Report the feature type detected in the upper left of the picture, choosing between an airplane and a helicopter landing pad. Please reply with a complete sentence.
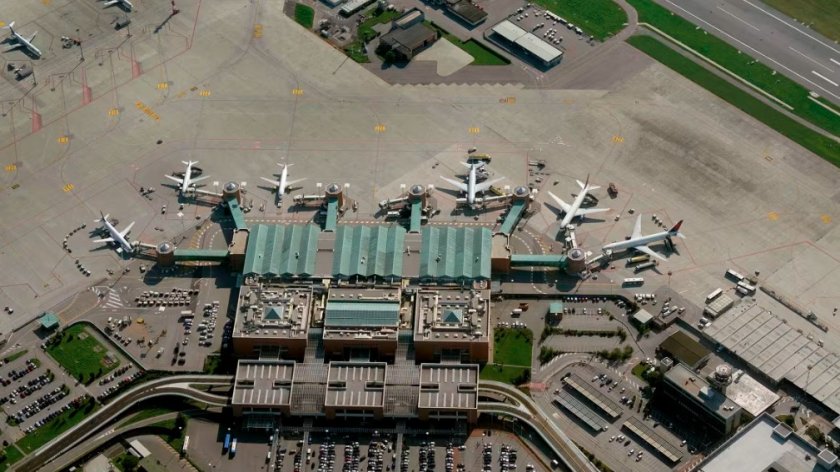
Looking in the upper left of the picture, you will find an airplane.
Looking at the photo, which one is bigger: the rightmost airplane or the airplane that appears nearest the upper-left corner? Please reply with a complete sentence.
The rightmost airplane covers a greater area than the airplane that appears nearest the upper-left corner.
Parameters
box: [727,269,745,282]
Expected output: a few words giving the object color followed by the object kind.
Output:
white vehicle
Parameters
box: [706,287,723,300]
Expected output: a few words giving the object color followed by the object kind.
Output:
white vehicle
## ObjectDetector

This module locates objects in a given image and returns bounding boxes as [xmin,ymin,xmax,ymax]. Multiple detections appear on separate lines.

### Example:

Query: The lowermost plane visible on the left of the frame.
[95,215,139,253]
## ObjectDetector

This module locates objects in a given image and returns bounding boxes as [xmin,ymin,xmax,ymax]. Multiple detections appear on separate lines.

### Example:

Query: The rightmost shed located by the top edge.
[483,19,563,73]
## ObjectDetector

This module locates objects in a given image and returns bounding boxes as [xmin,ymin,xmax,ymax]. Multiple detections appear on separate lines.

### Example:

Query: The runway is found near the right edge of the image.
[653,0,840,110]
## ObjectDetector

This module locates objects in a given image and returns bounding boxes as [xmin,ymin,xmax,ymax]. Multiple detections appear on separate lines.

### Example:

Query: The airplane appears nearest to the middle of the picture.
[440,162,505,209]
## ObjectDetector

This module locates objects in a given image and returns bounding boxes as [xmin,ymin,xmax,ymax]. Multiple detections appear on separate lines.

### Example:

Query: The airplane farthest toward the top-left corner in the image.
[2,22,40,55]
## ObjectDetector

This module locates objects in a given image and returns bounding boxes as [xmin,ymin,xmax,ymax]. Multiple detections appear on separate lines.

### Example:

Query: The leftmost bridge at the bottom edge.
[0,373,233,472]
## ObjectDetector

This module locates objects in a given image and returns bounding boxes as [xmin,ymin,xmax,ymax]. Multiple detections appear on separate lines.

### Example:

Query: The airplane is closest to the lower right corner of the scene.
[602,216,685,263]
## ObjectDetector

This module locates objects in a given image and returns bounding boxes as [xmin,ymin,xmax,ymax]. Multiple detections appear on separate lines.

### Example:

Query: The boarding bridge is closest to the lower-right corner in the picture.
[584,250,613,267]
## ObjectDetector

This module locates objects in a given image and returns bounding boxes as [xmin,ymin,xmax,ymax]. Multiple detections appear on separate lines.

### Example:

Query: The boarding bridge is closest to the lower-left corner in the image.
[129,241,158,254]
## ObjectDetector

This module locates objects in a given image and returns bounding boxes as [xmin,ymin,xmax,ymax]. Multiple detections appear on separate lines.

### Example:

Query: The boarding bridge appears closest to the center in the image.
[377,196,410,209]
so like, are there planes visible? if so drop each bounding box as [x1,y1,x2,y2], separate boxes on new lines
[163,154,212,193]
[259,160,307,207]
[121,0,133,8]
[440,162,505,209]
[2,22,40,55]
[550,175,613,227]
[95,215,139,253]
[602,216,685,263]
